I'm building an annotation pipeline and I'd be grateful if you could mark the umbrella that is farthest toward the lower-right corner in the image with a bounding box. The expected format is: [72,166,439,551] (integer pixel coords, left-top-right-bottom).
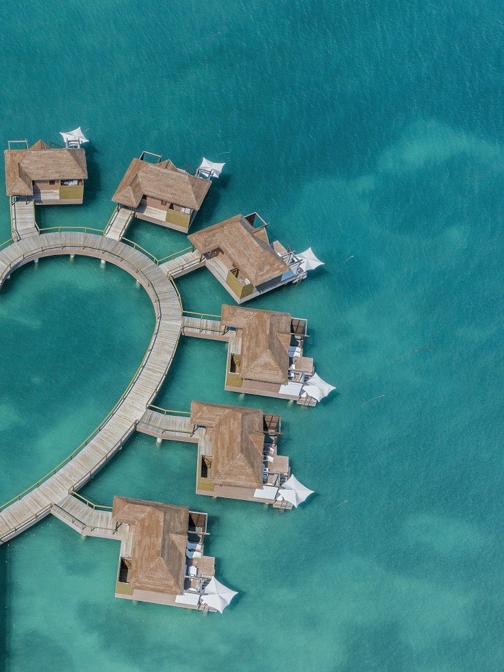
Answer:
[282,474,317,507]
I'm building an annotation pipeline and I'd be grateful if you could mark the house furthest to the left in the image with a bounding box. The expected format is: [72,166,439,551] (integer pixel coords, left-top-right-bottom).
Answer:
[3,135,87,212]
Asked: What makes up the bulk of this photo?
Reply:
water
